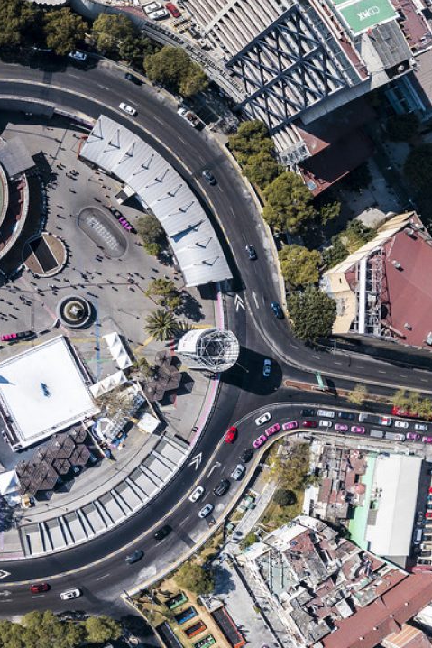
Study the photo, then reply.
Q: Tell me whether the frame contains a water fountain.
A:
Yes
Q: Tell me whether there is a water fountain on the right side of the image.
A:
No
